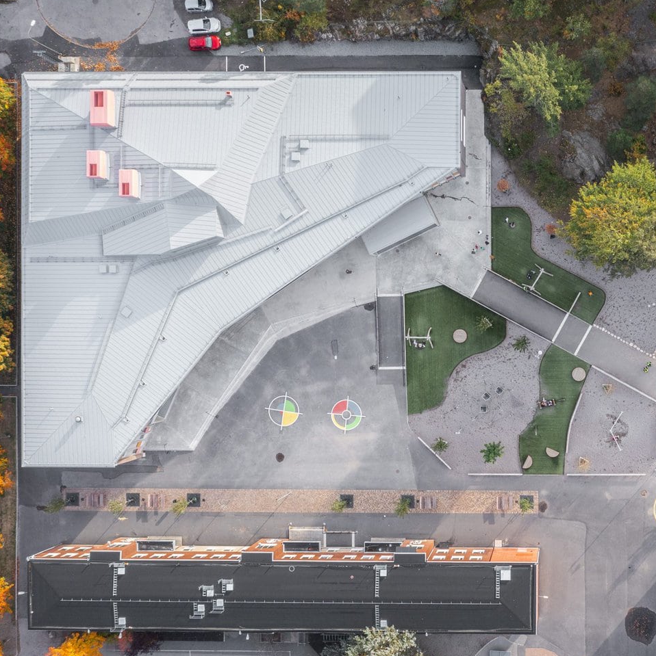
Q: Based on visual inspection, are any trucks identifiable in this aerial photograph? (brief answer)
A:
No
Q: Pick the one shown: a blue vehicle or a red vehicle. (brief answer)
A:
red vehicle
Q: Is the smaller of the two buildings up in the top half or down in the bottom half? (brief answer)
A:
bottom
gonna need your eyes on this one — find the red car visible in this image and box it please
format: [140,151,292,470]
[189,34,222,52]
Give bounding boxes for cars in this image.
[189,34,222,52]
[188,17,221,35]
[184,0,215,13]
